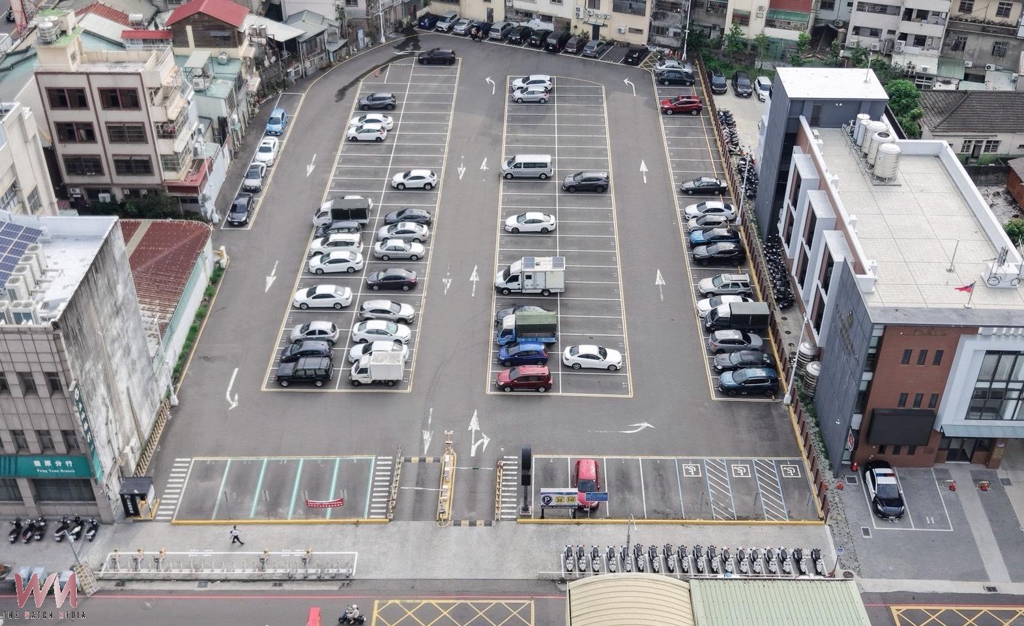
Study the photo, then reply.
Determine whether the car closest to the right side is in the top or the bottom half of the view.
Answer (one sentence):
Seen from above, the car closest to the right side lies in the bottom half of the view.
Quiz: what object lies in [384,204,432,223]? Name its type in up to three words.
car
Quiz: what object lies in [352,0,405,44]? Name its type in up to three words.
house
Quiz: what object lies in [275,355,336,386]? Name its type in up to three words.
car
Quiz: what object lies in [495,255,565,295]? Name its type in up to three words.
vehicle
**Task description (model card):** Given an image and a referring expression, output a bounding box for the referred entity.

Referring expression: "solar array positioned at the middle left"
[0,222,42,295]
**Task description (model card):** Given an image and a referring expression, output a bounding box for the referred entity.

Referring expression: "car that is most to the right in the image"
[865,459,912,517]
